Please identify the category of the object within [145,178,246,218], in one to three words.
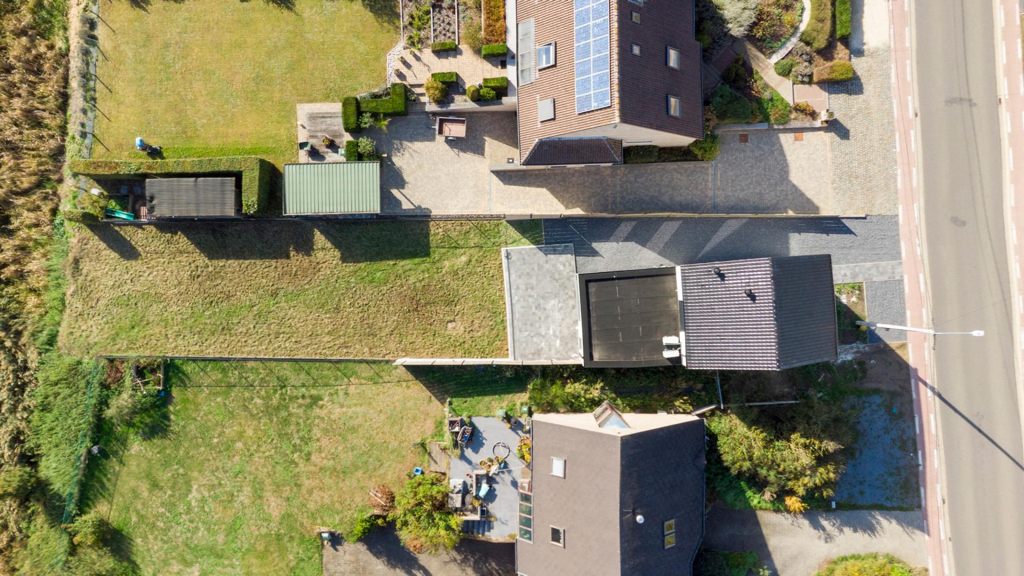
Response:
shed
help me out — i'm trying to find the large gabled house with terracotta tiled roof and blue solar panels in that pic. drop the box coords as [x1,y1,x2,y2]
[512,0,705,171]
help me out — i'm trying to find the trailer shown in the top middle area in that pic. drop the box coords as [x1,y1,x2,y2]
[430,112,467,142]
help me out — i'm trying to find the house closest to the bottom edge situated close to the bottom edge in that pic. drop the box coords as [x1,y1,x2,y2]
[515,401,706,576]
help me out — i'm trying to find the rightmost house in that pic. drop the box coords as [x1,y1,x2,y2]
[666,255,838,371]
